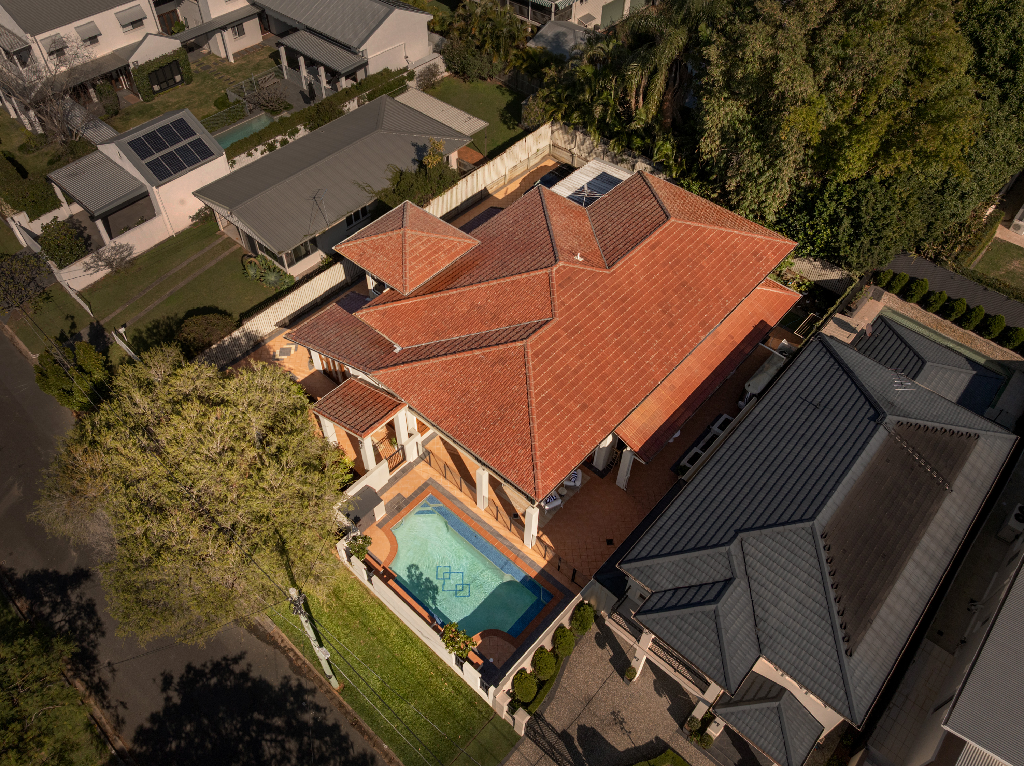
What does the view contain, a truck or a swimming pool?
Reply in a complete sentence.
It is a swimming pool that can be seen here.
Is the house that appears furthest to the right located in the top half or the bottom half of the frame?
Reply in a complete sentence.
The house that appears furthest to the right is in the bottom half of the image.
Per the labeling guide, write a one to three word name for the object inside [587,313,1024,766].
house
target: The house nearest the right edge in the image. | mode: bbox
[899,519,1024,766]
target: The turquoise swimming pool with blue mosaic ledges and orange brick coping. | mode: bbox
[380,485,565,663]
